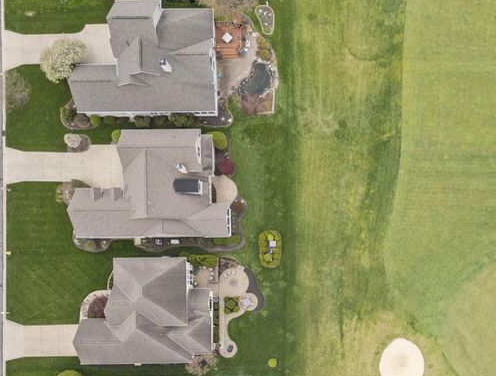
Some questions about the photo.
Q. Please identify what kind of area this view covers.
golf course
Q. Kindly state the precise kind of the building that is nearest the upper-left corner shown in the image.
home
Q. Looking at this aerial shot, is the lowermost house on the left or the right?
left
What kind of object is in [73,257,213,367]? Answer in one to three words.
house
